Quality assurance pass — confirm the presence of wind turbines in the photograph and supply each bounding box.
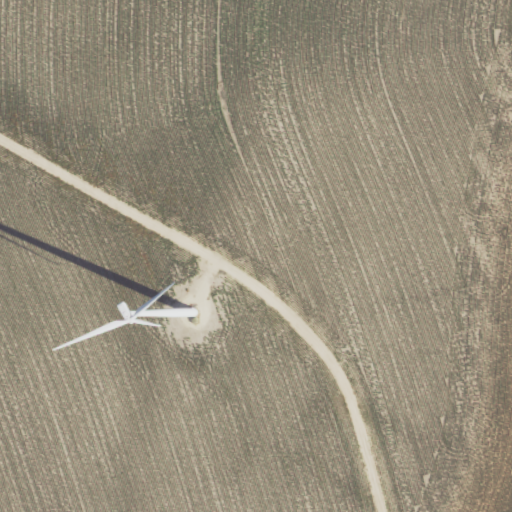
[54,282,198,350]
